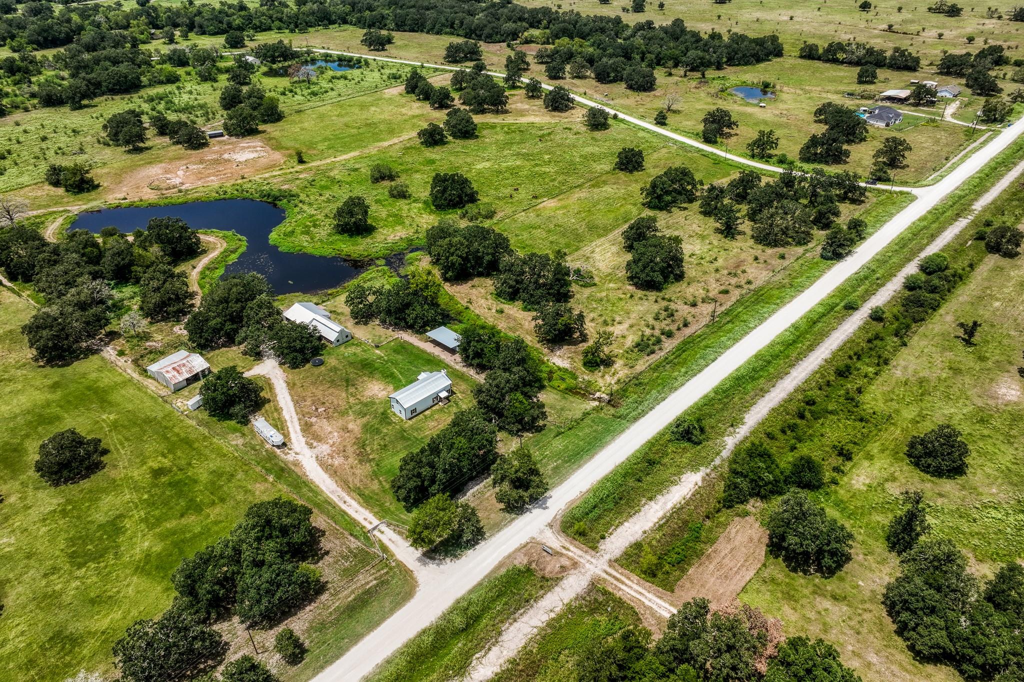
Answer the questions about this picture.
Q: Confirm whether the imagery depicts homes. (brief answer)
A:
Yes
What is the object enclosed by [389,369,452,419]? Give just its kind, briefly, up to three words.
house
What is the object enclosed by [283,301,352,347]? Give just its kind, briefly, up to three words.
barn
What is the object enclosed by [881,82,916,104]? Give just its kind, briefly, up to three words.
shed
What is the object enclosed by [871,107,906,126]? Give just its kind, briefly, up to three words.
house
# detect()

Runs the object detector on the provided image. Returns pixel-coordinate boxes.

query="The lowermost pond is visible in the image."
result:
[65,199,423,296]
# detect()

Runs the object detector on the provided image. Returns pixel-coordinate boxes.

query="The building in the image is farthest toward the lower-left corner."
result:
[145,348,211,392]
